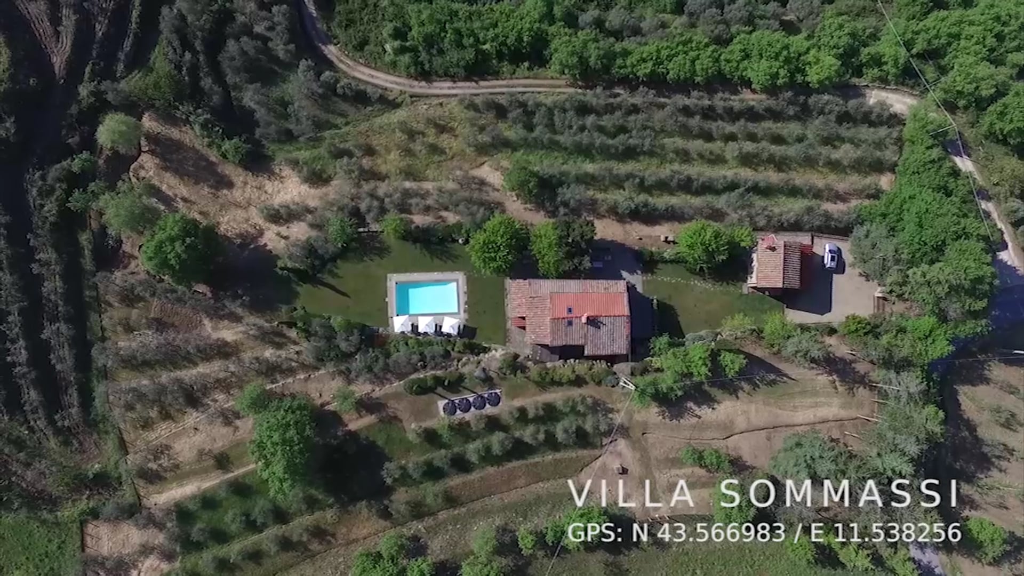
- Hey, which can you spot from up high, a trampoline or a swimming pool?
swimming pool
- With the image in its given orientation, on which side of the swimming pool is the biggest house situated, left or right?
to its right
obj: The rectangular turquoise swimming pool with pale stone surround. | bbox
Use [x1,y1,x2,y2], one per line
[387,272,468,335]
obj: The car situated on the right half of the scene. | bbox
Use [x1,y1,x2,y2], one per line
[823,243,838,271]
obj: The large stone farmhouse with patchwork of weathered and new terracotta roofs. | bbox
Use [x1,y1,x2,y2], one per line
[509,279,632,356]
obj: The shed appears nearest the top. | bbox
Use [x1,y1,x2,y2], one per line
[753,240,814,289]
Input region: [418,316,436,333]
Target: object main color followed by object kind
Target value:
white umbrella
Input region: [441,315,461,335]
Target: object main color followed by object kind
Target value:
white umbrella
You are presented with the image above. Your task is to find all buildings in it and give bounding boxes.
[753,240,814,289]
[509,279,632,356]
